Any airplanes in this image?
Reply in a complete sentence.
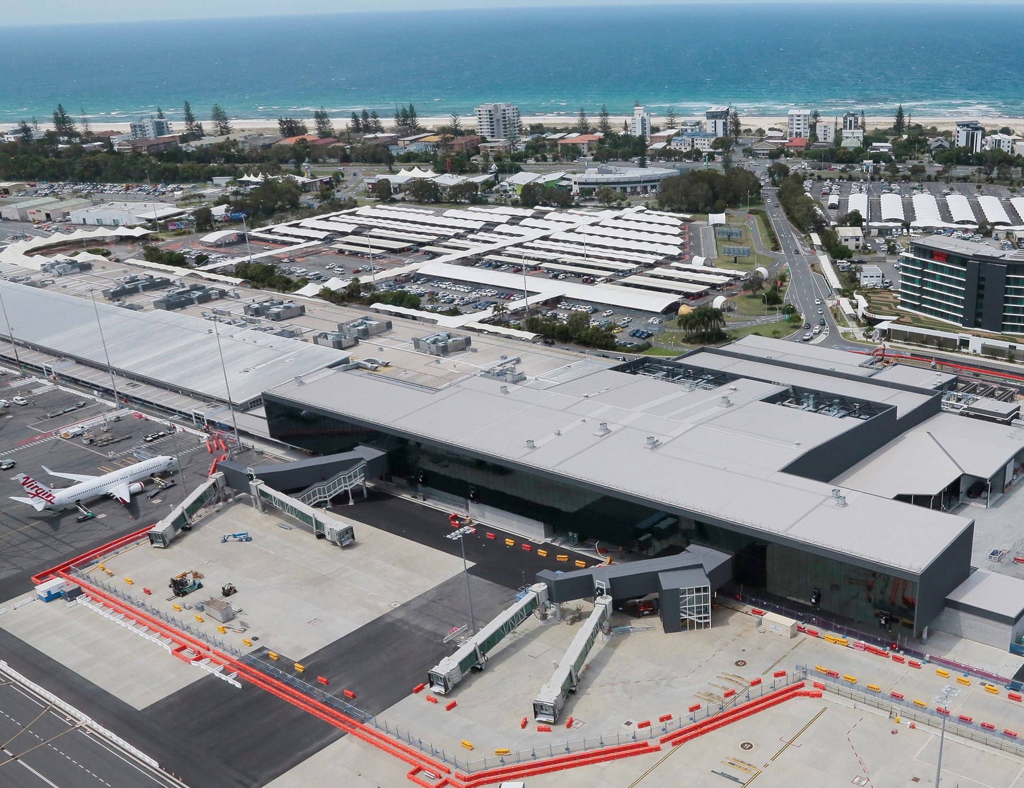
Yes, you can see an airplane in this photo.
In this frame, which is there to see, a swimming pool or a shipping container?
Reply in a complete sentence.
Of the two, only a shipping container appears.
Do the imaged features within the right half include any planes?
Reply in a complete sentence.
No, within the right half there is no plane.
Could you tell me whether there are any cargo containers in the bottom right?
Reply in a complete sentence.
Yes, a cargo container appears in the bottom right.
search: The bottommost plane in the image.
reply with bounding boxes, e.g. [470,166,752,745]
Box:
[16,458,177,511]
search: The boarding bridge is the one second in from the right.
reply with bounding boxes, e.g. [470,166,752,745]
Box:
[426,582,551,693]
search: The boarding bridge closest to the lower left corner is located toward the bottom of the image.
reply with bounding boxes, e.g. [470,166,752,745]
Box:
[146,472,231,546]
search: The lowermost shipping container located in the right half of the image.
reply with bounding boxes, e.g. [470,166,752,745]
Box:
[762,614,797,639]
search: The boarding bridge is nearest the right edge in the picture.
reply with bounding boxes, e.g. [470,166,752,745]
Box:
[532,582,616,721]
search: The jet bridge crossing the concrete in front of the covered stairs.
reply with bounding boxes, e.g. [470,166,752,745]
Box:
[247,469,358,546]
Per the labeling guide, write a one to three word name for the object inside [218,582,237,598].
work vehicle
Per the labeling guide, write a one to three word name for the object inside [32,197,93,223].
hangar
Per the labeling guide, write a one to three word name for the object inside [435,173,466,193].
building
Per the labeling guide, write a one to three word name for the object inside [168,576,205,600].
work vehicle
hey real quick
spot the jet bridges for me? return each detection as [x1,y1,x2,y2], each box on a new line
[426,582,551,693]
[532,582,616,721]
[247,469,358,546]
[146,472,231,546]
